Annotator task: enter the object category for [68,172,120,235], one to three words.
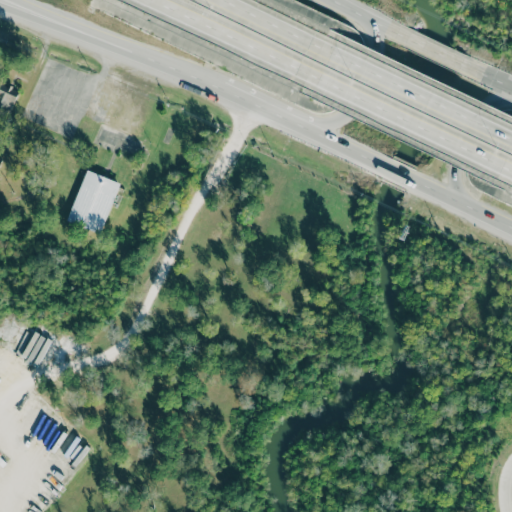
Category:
building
